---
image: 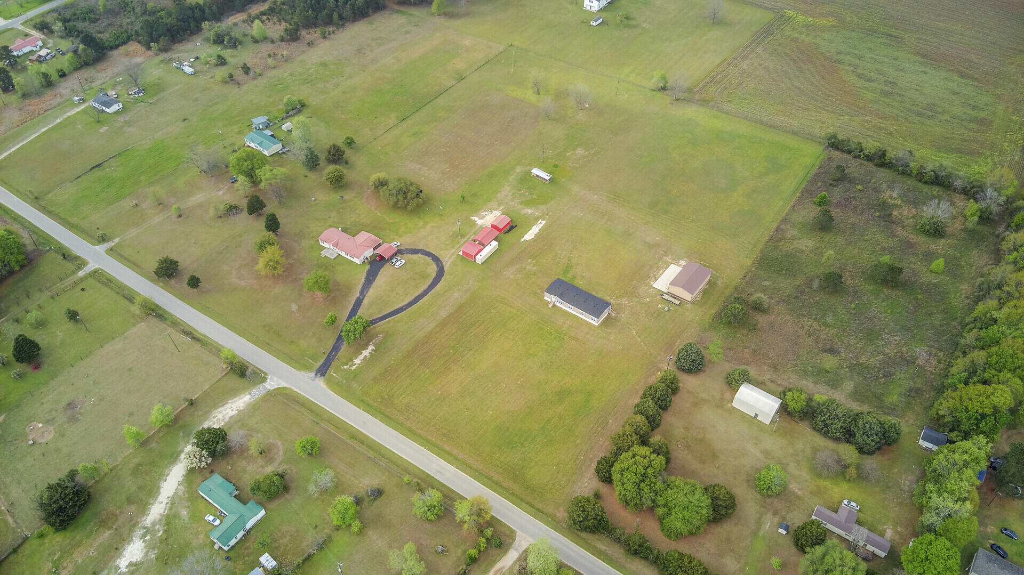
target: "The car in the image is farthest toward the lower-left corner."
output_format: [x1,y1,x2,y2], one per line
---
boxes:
[203,515,221,527]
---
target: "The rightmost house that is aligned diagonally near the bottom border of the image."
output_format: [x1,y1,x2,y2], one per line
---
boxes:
[813,504,892,558]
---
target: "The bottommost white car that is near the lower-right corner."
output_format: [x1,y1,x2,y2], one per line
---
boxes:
[843,498,862,512]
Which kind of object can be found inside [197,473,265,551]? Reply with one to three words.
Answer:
building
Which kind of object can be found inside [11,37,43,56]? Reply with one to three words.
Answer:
house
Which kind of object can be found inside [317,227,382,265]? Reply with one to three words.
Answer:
house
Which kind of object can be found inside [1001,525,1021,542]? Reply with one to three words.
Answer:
car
